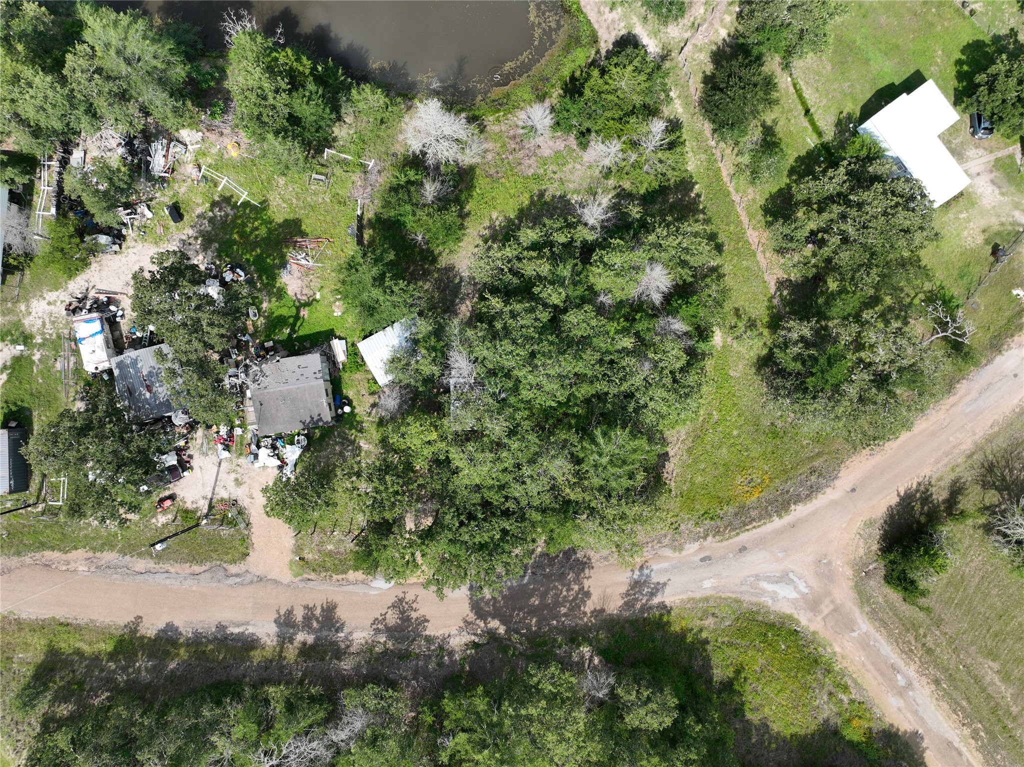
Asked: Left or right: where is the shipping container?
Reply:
left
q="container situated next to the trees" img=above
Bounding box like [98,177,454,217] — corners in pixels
[0,427,28,496]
